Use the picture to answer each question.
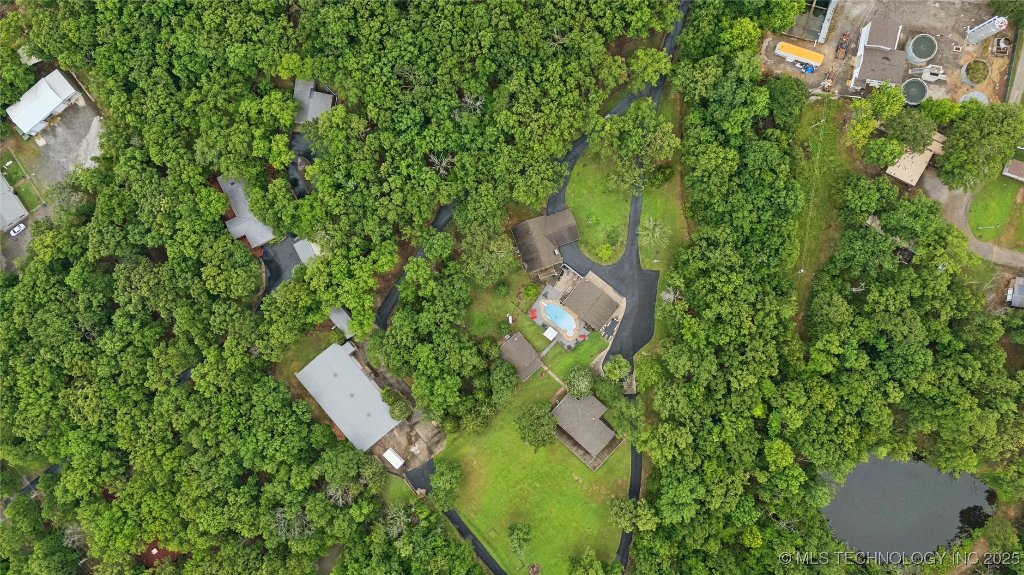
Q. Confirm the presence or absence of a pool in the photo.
Yes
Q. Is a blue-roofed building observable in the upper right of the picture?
No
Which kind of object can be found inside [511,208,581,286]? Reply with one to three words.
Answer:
house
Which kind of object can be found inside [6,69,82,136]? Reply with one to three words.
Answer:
barn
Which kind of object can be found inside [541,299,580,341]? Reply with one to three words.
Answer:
swimming pool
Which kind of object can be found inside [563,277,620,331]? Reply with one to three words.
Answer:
building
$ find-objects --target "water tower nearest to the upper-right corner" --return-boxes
[963,15,1008,47]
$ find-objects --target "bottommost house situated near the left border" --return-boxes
[0,169,30,231]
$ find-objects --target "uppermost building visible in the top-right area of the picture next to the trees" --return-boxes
[850,18,907,90]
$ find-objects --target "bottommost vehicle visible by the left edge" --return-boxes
[9,223,25,235]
